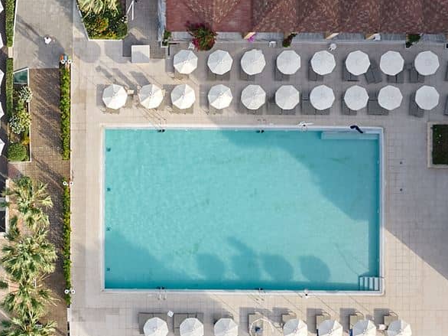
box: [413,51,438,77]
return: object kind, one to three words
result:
umbrella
